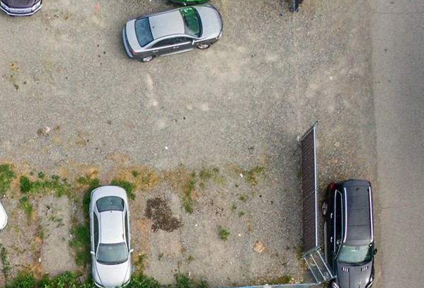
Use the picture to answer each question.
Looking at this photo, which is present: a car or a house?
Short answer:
car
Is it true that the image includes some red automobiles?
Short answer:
No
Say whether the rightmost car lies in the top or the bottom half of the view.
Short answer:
bottom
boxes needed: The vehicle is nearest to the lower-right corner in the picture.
[324,176,381,288]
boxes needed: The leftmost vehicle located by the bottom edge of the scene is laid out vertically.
[89,186,136,288]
